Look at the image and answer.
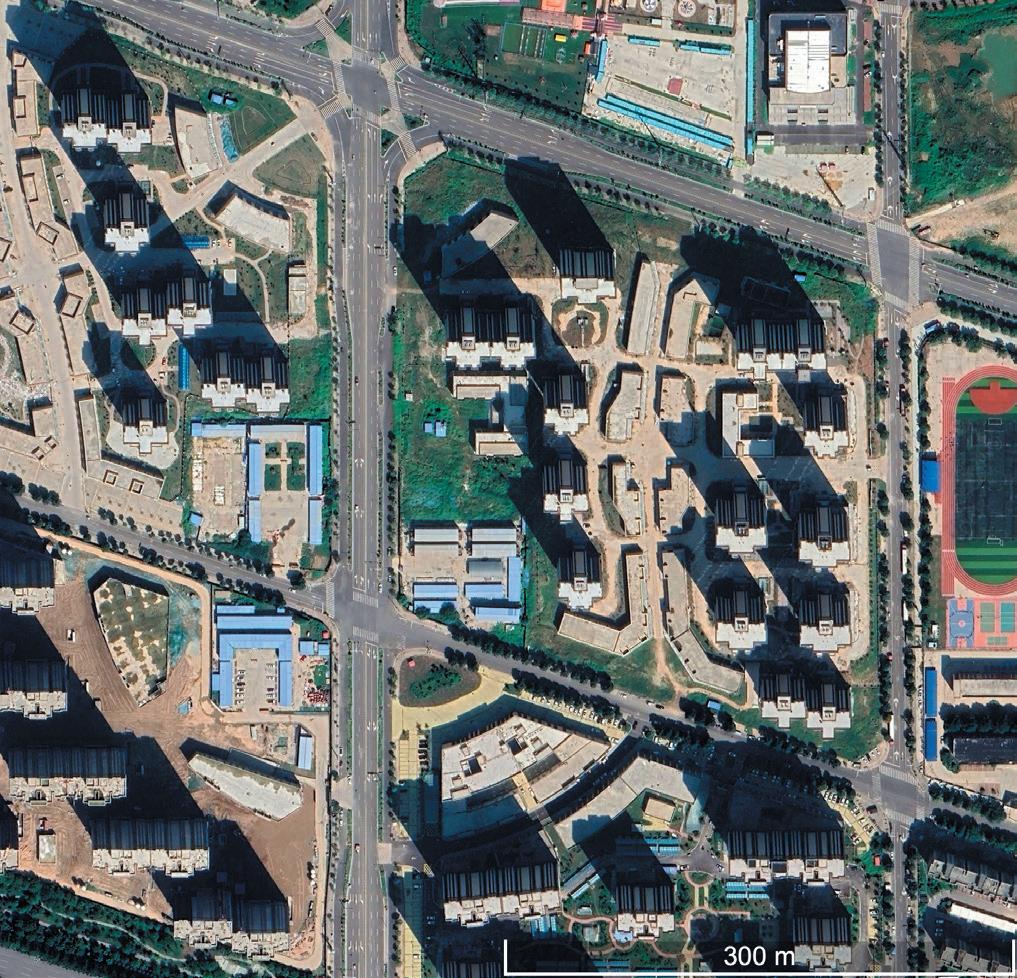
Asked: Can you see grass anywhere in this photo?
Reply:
Yes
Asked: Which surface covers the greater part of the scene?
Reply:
paved ground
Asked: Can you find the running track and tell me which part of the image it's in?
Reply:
right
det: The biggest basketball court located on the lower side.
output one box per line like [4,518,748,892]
[949,600,972,647]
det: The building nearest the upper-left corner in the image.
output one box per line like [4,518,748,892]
[13,50,40,136]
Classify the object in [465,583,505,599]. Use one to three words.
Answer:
shed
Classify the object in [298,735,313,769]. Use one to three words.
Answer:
shed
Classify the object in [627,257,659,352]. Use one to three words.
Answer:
building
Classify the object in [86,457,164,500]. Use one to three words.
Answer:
building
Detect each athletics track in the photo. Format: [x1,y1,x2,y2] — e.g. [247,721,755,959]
[943,364,1017,598]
